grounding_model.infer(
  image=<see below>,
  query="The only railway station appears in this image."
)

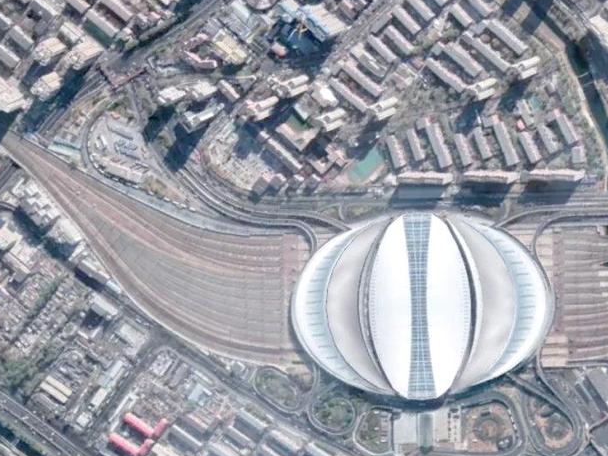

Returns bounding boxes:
[291,211,556,399]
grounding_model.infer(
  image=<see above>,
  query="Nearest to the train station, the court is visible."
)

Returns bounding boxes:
[349,150,385,181]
